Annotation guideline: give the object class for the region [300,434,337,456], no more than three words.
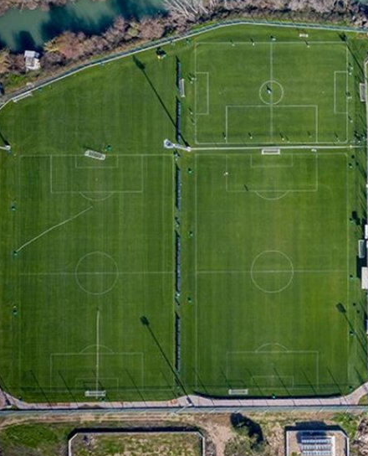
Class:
building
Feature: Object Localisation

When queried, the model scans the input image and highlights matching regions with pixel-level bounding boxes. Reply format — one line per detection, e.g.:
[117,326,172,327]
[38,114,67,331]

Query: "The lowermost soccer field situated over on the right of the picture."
[193,151,350,391]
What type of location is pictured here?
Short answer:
sports ground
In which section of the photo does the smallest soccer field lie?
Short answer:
top right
